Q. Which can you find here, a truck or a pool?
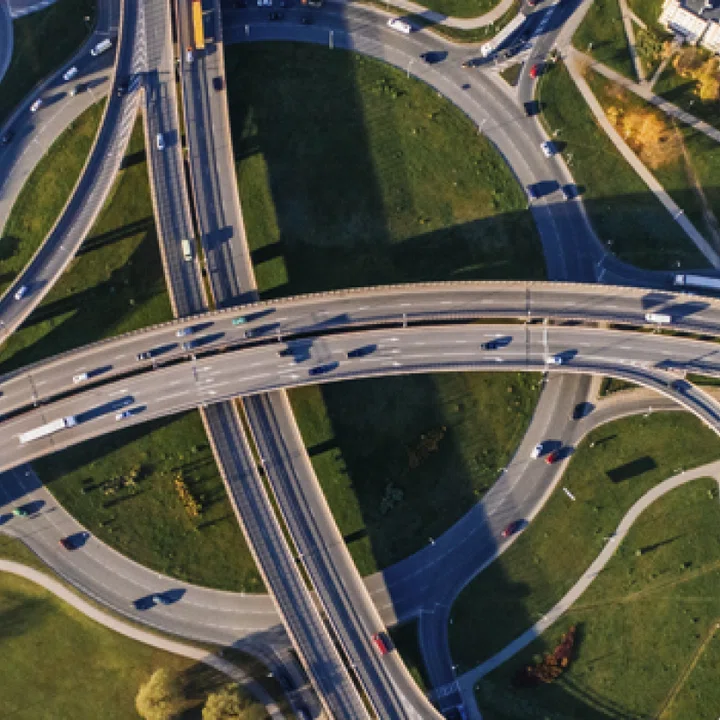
truck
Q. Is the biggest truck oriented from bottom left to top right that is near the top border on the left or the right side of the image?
right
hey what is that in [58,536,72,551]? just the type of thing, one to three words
car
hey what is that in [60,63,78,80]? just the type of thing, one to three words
vehicle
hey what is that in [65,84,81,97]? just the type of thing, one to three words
vehicle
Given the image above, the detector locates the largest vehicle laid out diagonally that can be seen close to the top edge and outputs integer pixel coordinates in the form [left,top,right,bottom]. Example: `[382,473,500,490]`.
[482,6,531,54]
